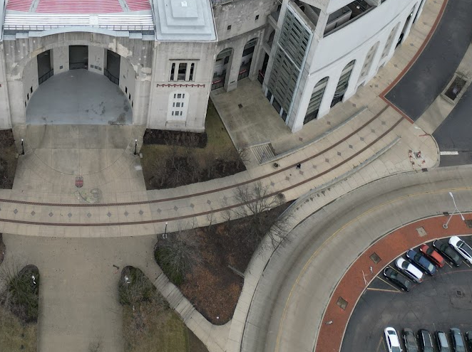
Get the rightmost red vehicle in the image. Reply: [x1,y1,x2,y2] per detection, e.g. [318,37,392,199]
[420,241,446,266]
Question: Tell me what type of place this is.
sports ground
